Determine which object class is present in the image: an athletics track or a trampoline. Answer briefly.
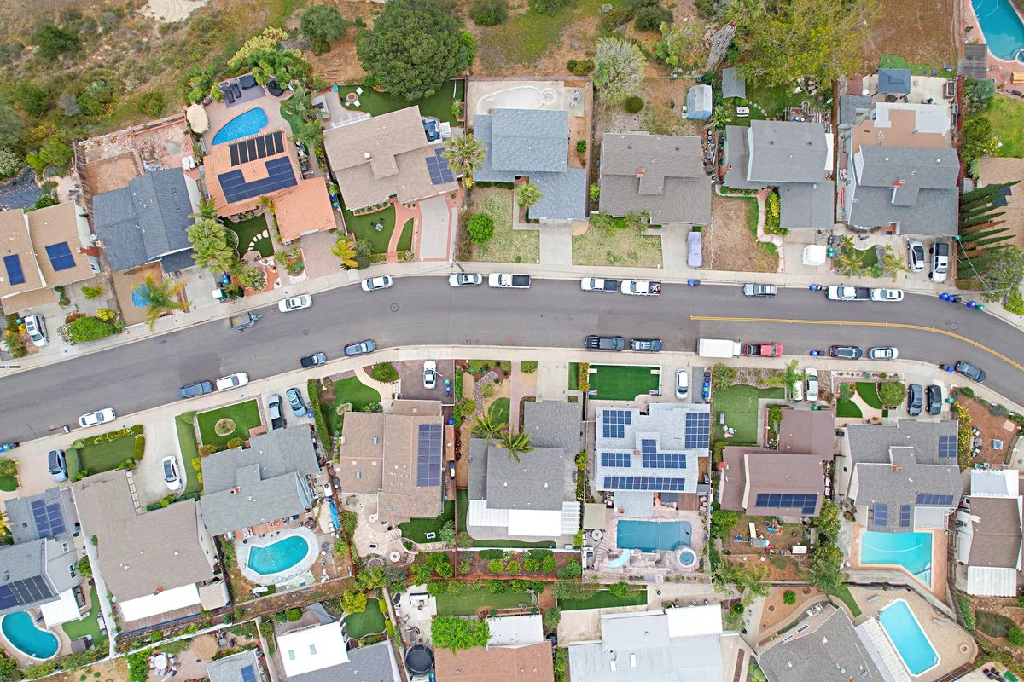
trampoline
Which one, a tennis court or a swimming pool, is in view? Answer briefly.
swimming pool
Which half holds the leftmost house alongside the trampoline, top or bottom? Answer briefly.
bottom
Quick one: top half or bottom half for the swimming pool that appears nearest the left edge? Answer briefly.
bottom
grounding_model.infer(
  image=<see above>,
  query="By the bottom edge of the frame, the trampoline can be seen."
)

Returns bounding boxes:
[402,644,434,681]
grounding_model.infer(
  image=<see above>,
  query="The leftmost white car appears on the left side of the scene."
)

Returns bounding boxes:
[25,312,50,346]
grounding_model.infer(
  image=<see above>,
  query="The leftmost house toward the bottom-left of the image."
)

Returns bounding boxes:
[0,485,91,629]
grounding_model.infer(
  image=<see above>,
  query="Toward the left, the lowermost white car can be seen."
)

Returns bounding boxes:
[162,454,185,491]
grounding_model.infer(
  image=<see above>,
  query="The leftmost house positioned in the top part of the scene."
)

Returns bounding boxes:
[0,201,105,316]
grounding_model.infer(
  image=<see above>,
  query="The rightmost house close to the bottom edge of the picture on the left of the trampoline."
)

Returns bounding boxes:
[277,615,405,682]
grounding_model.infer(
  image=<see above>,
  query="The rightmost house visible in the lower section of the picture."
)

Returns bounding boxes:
[947,467,1024,597]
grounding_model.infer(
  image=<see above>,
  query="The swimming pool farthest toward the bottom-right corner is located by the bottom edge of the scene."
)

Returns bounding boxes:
[878,599,941,677]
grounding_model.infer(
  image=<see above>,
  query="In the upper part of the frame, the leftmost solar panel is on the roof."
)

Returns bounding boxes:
[4,254,24,284]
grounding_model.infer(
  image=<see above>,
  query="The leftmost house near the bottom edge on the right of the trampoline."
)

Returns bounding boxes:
[435,609,555,682]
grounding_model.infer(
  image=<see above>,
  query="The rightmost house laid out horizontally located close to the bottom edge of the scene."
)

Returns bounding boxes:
[749,603,913,682]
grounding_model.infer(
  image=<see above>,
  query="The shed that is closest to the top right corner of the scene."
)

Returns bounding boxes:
[954,44,988,83]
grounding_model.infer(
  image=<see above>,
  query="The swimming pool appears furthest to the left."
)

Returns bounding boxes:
[0,609,61,662]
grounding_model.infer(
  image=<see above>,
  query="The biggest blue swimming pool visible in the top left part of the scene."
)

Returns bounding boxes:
[211,105,269,148]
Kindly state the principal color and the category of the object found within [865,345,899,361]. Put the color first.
white car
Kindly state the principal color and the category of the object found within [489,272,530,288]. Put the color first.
white vehicle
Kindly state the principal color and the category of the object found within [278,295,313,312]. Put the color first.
white car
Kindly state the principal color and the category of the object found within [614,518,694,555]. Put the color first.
blue swimming pool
